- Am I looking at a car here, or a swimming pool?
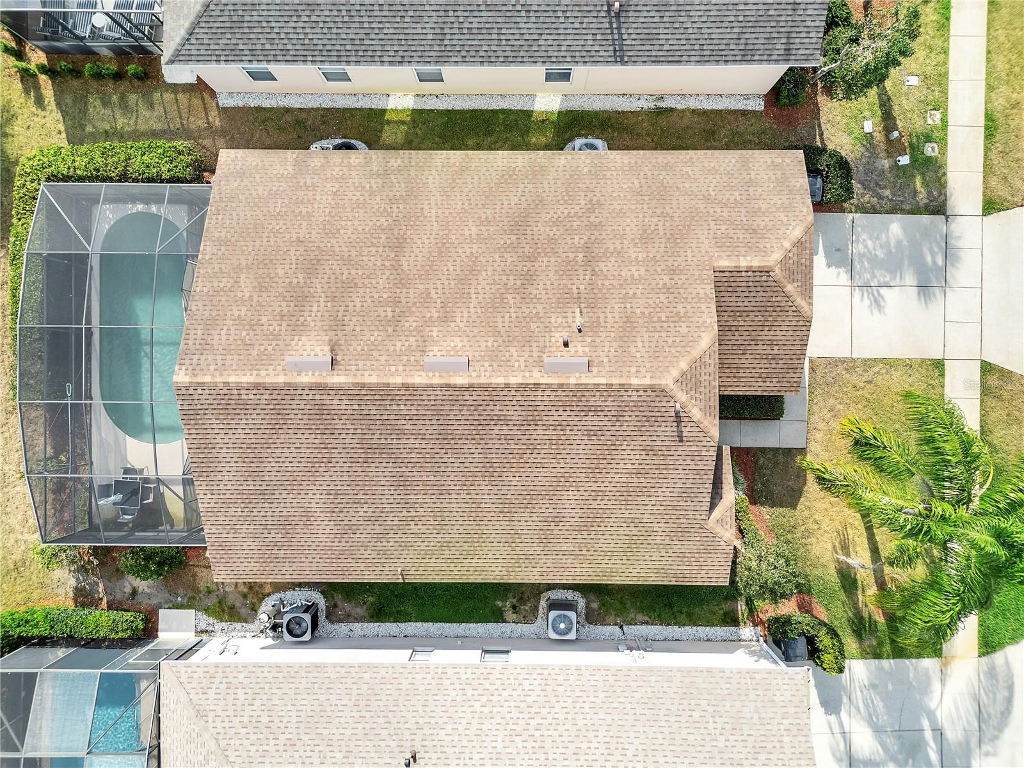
swimming pool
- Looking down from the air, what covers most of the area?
buildings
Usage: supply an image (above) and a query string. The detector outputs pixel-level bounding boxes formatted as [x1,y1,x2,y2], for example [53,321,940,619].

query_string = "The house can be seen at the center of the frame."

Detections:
[174,150,817,584]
